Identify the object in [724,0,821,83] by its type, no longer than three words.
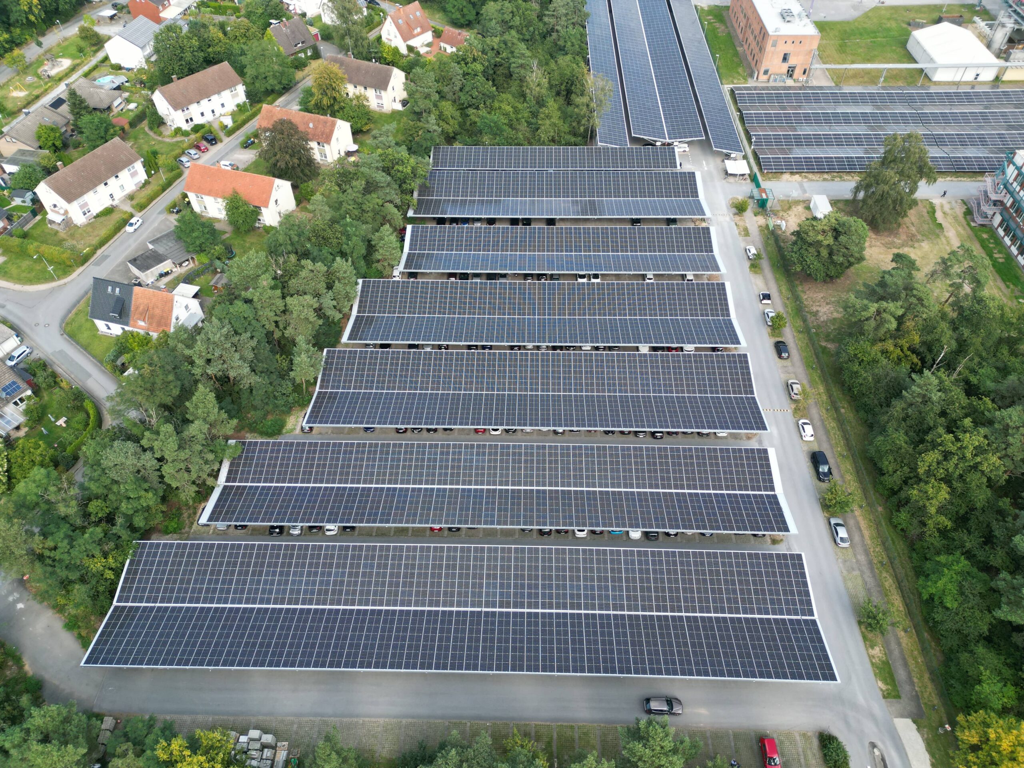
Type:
building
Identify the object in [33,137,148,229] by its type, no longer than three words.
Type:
house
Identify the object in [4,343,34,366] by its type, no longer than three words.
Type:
car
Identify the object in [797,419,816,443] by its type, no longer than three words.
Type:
car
